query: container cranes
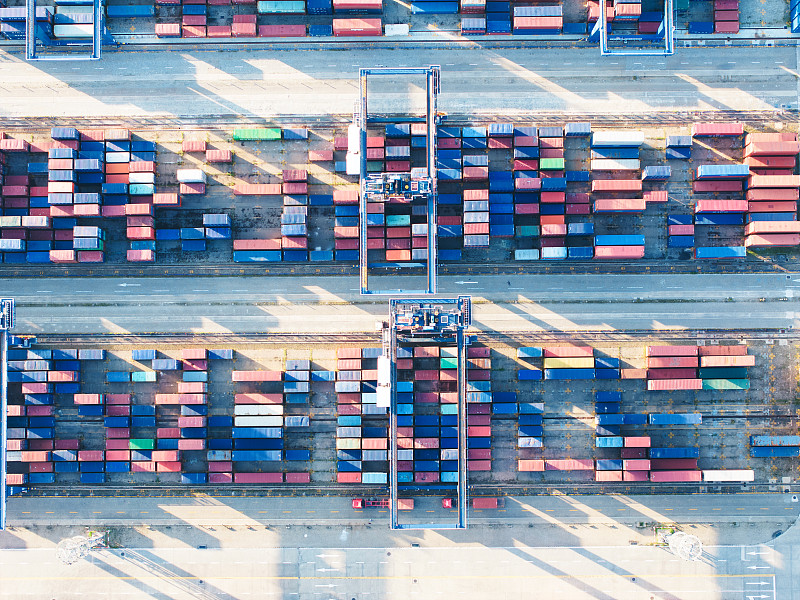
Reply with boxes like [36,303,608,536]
[377,296,479,529]
[347,65,451,294]
[578,0,679,56]
[0,299,47,531]
[23,0,128,60]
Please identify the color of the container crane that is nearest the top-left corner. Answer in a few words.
blue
